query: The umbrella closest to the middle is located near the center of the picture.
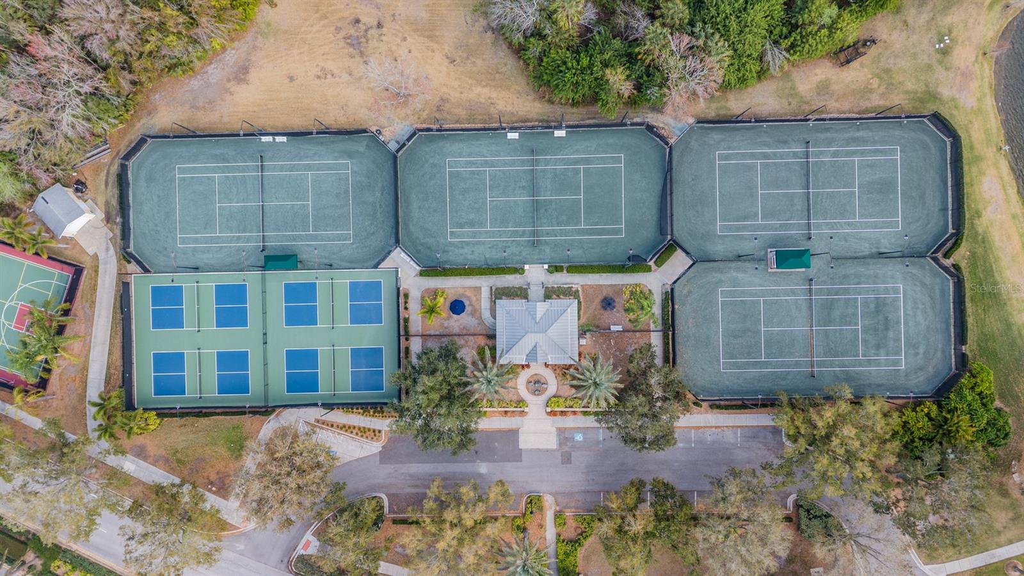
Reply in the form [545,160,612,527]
[449,299,465,315]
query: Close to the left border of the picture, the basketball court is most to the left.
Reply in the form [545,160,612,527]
[0,242,86,398]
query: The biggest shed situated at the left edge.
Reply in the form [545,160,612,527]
[34,184,95,239]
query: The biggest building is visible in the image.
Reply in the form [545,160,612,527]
[496,299,579,365]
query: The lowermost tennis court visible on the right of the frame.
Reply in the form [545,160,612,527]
[672,255,955,399]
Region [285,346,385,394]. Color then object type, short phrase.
blue sports court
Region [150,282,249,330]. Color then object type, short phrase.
blue sports court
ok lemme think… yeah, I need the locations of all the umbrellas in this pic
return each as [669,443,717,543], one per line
[449,299,465,315]
[601,296,615,310]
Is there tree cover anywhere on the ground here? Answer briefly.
Yes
